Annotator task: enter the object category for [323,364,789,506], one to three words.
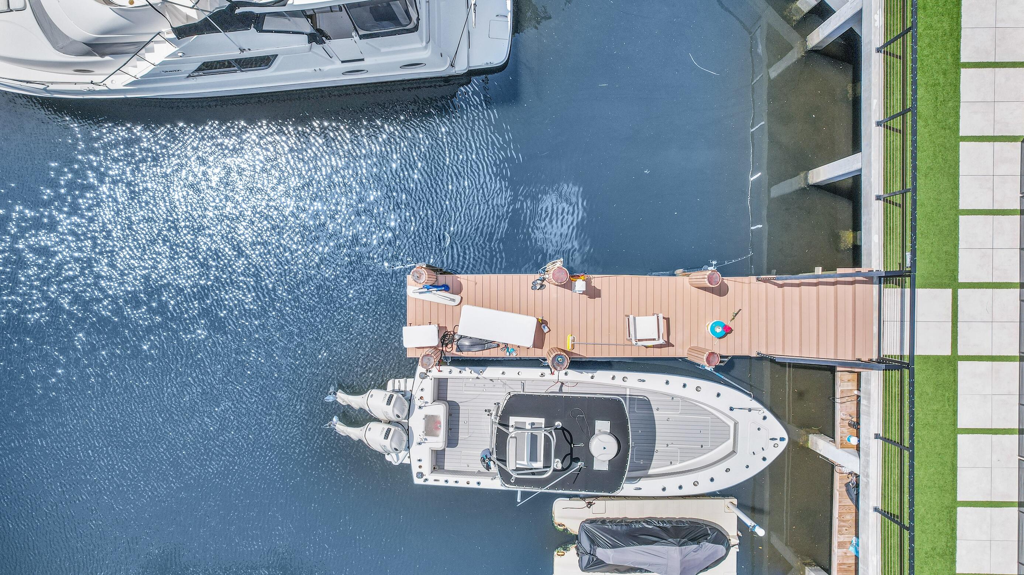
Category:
boat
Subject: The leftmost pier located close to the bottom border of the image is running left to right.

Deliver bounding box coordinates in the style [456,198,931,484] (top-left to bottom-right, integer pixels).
[548,493,739,575]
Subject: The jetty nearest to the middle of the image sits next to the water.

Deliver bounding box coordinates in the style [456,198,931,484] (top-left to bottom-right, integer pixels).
[407,275,748,357]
